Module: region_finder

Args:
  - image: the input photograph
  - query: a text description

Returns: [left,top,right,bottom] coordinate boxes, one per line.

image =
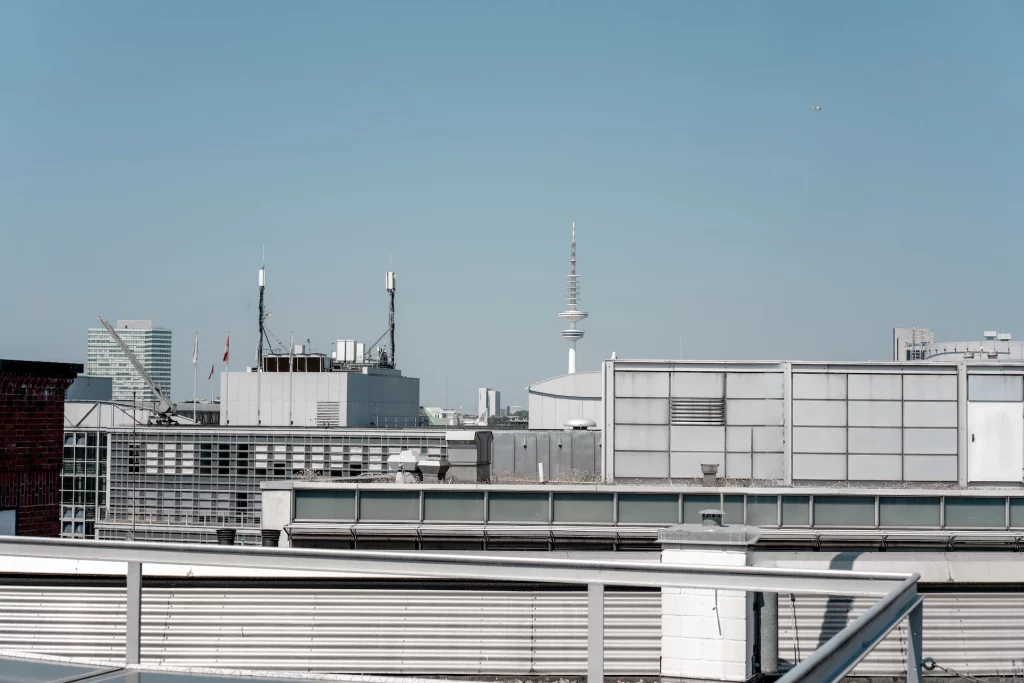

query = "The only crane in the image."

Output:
[97,318,179,427]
